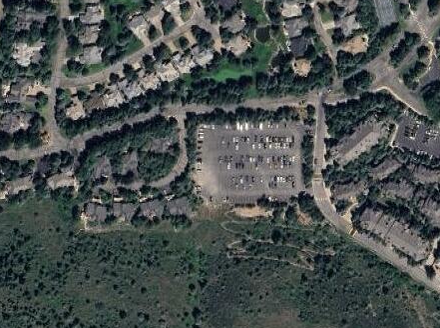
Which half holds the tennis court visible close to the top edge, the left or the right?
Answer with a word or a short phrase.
right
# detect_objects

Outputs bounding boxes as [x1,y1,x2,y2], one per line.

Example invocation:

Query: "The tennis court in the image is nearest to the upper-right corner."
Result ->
[374,0,398,25]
